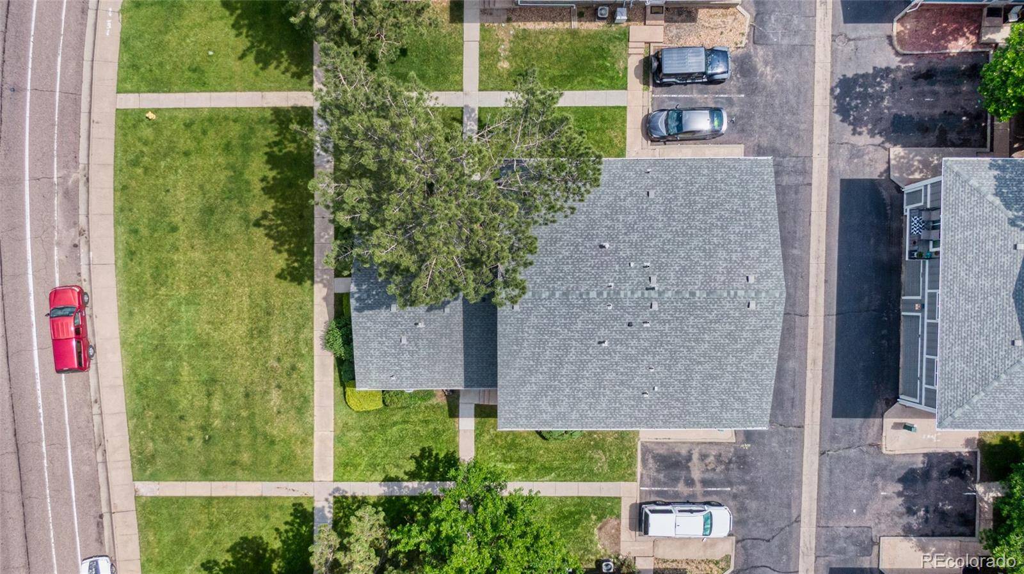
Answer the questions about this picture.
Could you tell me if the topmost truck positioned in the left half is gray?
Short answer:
No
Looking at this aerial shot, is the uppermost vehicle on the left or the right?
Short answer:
right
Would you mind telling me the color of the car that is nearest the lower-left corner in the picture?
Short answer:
white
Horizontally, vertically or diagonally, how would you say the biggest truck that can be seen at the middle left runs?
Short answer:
vertically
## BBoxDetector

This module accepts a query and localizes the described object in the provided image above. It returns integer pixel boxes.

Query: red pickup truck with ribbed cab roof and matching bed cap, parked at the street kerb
[47,282,94,374]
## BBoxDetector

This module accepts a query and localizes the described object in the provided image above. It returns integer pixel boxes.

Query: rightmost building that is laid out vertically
[897,156,1024,431]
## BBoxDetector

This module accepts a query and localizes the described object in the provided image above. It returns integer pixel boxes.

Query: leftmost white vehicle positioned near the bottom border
[83,552,117,574]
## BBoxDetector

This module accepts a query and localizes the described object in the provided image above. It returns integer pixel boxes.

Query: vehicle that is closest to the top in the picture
[650,47,729,84]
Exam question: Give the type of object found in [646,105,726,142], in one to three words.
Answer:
car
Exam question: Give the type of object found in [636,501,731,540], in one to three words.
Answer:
truck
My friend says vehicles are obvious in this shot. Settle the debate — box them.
[650,47,729,84]
[636,501,731,540]
[47,282,94,374]
[646,105,726,142]
[83,552,117,574]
